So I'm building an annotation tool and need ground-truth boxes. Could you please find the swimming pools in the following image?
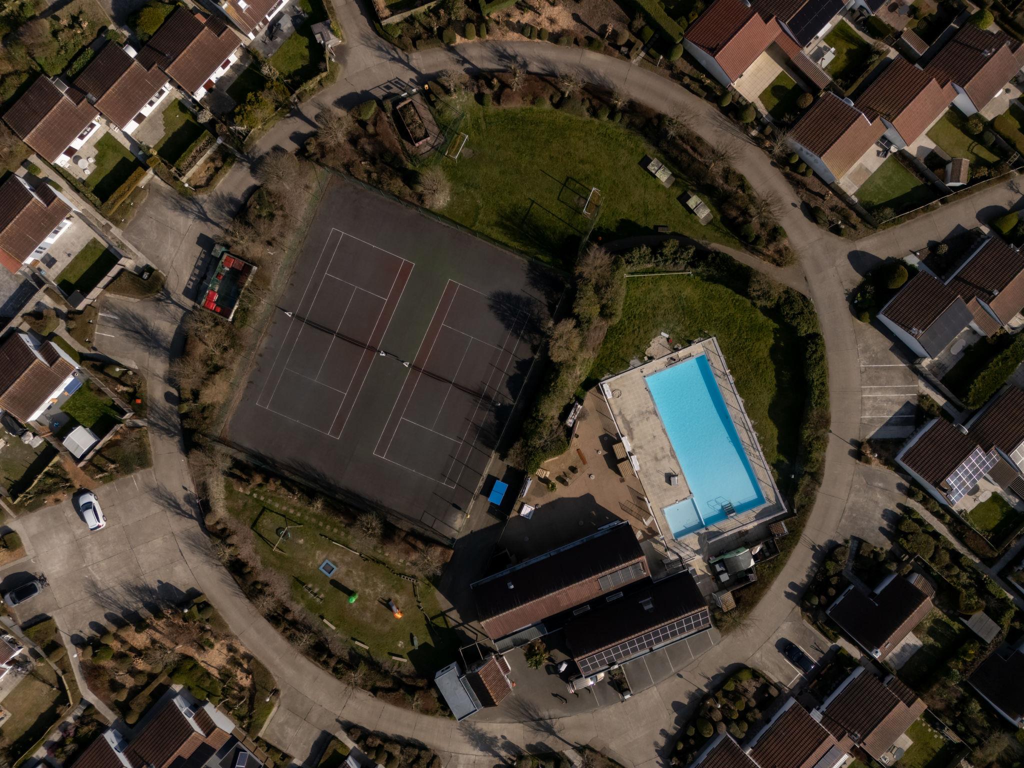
[601,337,788,561]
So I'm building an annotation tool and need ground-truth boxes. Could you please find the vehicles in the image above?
[564,672,604,697]
[6,577,47,605]
[81,492,107,529]
[781,643,814,677]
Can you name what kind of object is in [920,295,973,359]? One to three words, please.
solar array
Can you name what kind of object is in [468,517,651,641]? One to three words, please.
building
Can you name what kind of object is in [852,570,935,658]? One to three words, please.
house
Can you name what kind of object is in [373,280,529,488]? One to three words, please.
tennis court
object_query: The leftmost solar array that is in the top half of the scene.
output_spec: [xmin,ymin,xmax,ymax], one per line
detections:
[788,0,835,48]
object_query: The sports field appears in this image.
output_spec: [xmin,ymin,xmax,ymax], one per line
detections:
[417,99,769,275]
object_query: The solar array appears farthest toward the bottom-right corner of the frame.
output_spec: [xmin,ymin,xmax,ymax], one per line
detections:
[814,742,850,768]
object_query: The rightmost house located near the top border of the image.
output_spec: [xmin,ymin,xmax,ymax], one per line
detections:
[922,23,1024,118]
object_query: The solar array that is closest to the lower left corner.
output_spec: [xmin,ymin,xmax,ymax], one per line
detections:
[174,736,222,768]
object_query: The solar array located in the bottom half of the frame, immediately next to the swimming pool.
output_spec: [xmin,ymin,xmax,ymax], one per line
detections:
[578,610,710,672]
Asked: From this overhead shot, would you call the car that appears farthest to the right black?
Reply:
Yes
